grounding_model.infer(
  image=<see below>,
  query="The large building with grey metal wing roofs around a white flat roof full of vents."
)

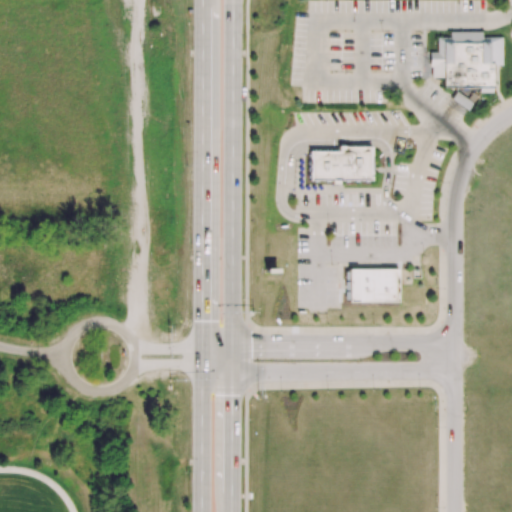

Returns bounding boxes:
[429,32,505,94]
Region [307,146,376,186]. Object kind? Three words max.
building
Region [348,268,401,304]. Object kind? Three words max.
building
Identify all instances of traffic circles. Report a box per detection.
[62,315,140,396]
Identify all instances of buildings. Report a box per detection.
[348,268,401,304]
[429,32,505,94]
[307,146,376,186]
